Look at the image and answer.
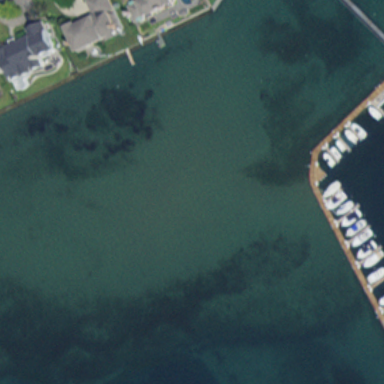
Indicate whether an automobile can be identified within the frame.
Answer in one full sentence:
No, this view has no automobile in it.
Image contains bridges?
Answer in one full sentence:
No, there isn't any bridge down there.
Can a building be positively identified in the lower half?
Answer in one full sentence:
No, there is no building in the lower half.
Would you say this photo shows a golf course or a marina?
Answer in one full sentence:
The area seen from above is a marina.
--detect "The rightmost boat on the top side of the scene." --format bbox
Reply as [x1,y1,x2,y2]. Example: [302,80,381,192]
[367,108,383,123]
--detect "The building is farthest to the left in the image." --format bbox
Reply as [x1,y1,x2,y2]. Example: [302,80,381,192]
[0,20,49,77]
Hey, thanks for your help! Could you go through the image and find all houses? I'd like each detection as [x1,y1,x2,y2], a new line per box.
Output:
[0,20,49,77]
[62,0,122,52]
[124,0,172,24]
